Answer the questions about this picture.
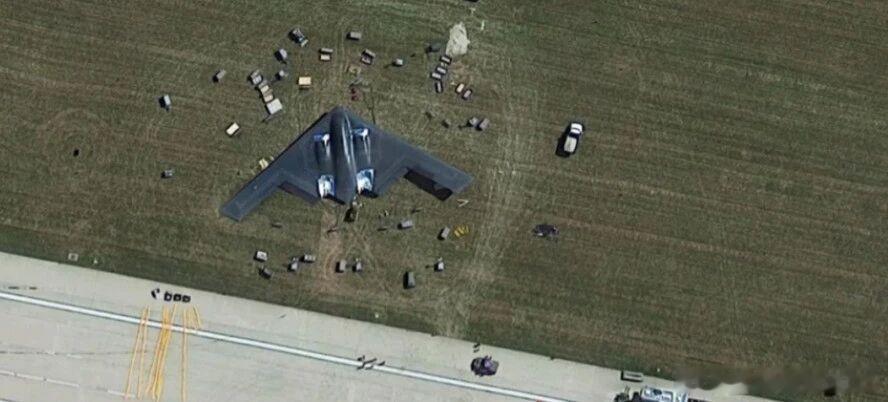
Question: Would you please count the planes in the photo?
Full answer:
My tally gives 1 plane in this photo.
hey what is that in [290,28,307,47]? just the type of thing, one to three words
work vehicle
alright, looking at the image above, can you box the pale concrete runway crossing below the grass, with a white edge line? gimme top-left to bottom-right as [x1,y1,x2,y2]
[0,253,781,402]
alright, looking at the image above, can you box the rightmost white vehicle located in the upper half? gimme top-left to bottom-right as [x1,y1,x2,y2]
[562,121,582,154]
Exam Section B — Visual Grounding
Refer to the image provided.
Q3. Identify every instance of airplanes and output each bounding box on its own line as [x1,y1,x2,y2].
[221,108,474,219]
